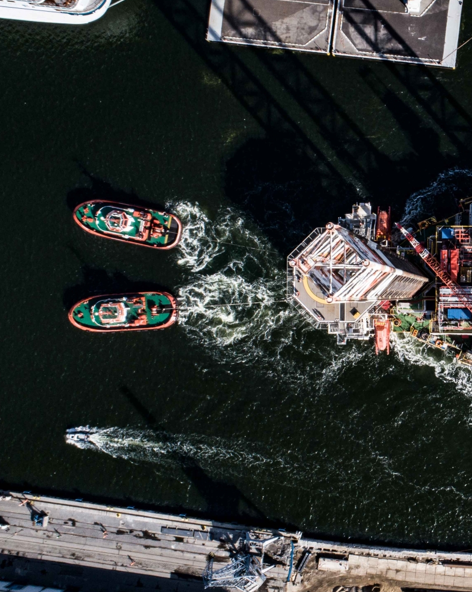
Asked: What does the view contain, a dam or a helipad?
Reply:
helipad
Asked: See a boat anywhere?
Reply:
Yes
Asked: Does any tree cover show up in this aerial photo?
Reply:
No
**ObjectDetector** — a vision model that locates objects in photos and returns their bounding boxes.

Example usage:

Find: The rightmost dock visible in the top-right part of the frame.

[332,0,463,71]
